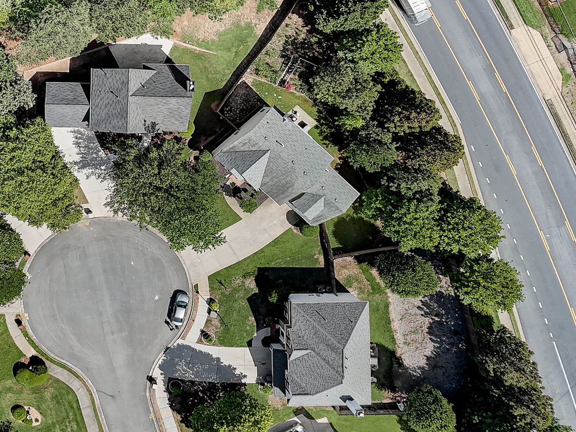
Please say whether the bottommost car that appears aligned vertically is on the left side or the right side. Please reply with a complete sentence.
The bottommost car that appears aligned vertically sits on the left side.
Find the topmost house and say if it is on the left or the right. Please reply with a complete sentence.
The topmost house is on the left side of the image.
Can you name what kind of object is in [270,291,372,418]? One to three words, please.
house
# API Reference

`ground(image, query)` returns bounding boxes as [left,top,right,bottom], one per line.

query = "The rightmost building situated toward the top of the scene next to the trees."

[213,106,360,226]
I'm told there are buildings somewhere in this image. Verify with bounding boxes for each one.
[45,64,198,133]
[213,106,360,226]
[270,291,372,418]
